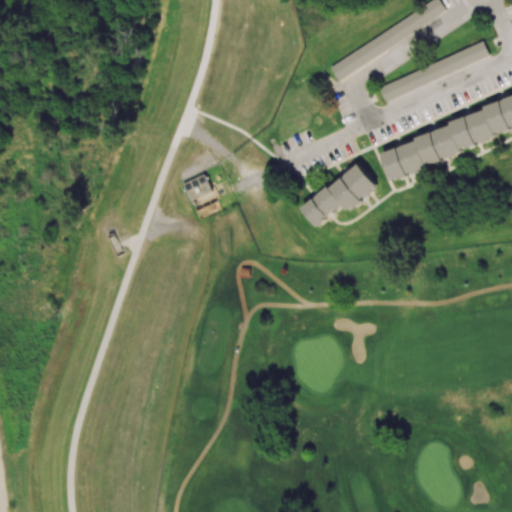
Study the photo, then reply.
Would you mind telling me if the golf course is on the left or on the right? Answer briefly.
right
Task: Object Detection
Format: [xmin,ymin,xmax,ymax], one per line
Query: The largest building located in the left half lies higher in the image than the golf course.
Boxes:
[183,175,222,218]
